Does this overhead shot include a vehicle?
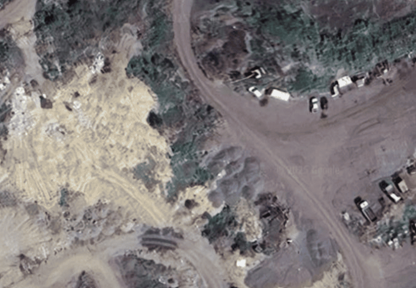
Yes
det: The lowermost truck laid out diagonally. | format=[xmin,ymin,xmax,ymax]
[357,199,378,227]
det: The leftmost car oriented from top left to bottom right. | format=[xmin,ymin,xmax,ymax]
[247,86,264,100]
